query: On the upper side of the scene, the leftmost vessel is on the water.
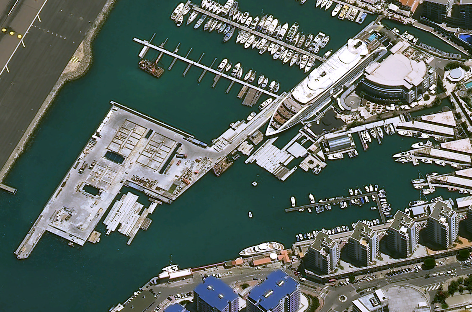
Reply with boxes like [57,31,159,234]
[139,54,164,77]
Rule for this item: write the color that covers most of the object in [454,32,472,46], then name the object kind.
blue swimming pool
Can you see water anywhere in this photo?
Yes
